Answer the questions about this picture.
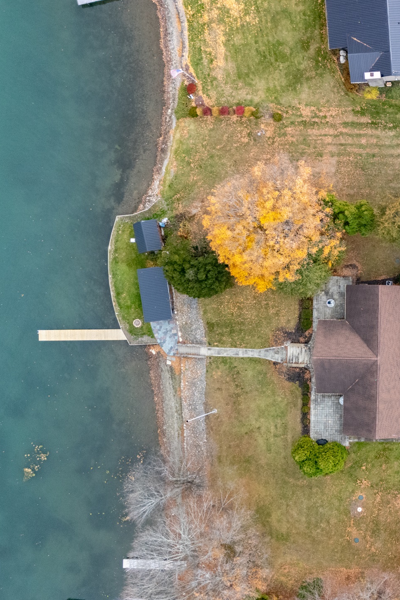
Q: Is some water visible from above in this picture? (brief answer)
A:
Yes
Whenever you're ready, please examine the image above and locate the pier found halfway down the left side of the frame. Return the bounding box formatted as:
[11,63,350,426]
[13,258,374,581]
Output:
[38,328,124,341]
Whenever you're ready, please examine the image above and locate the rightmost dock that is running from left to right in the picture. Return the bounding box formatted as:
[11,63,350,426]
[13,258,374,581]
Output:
[123,557,187,570]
